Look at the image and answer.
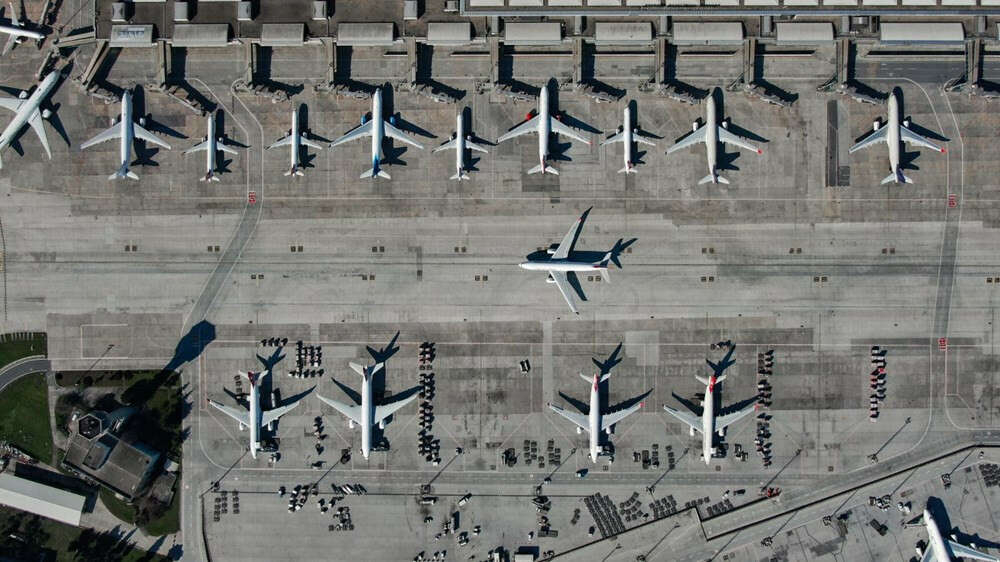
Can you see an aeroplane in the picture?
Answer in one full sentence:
Yes, an aeroplane appears in the view.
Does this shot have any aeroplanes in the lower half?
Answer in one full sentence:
Yes, an aeroplane is visible in the lower half.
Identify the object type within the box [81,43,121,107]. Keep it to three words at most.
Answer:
jet bridge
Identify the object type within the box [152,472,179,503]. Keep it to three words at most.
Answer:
house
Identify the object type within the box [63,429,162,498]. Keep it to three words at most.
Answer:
building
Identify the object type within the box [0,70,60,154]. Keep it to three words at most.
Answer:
airplane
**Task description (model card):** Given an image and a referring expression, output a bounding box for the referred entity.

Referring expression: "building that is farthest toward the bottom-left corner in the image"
[0,466,93,527]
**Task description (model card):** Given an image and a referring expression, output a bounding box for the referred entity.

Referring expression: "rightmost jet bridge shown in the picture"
[955,43,1000,104]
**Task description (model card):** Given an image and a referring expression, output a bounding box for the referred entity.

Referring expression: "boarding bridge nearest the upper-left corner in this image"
[33,16,97,80]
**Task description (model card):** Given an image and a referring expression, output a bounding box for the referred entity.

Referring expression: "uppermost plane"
[0,1,45,57]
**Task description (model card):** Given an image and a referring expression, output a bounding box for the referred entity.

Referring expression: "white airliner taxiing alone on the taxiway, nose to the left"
[519,218,612,315]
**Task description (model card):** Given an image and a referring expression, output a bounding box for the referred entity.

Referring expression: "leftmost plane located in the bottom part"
[204,375,298,458]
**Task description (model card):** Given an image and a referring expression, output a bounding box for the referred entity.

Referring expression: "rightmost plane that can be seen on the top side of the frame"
[850,92,946,184]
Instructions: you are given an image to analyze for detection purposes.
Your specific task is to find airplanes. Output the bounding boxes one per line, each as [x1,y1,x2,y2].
[180,114,236,181]
[519,218,612,315]
[918,508,1000,562]
[665,95,762,184]
[76,89,169,179]
[0,1,45,57]
[600,107,656,174]
[663,379,759,464]
[204,375,298,458]
[547,378,643,462]
[496,85,591,174]
[430,113,488,180]
[264,109,322,176]
[850,92,946,184]
[0,70,60,154]
[312,364,420,459]
[327,88,423,179]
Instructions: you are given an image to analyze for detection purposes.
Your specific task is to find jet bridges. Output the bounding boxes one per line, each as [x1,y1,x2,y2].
[645,43,707,108]
[824,43,890,108]
[955,43,1000,104]
[482,43,540,102]
[565,43,622,107]
[244,44,291,107]
[159,44,210,117]
[33,16,97,80]
[733,43,799,108]
[327,43,373,105]
[408,43,458,108]
[81,43,121,107]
